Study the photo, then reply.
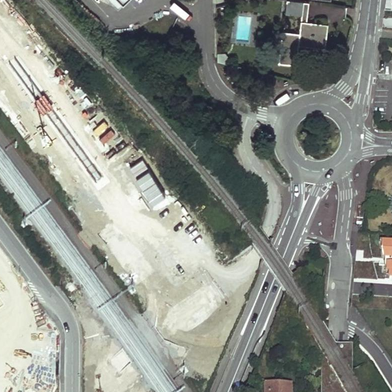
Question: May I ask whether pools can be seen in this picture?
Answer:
Yes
